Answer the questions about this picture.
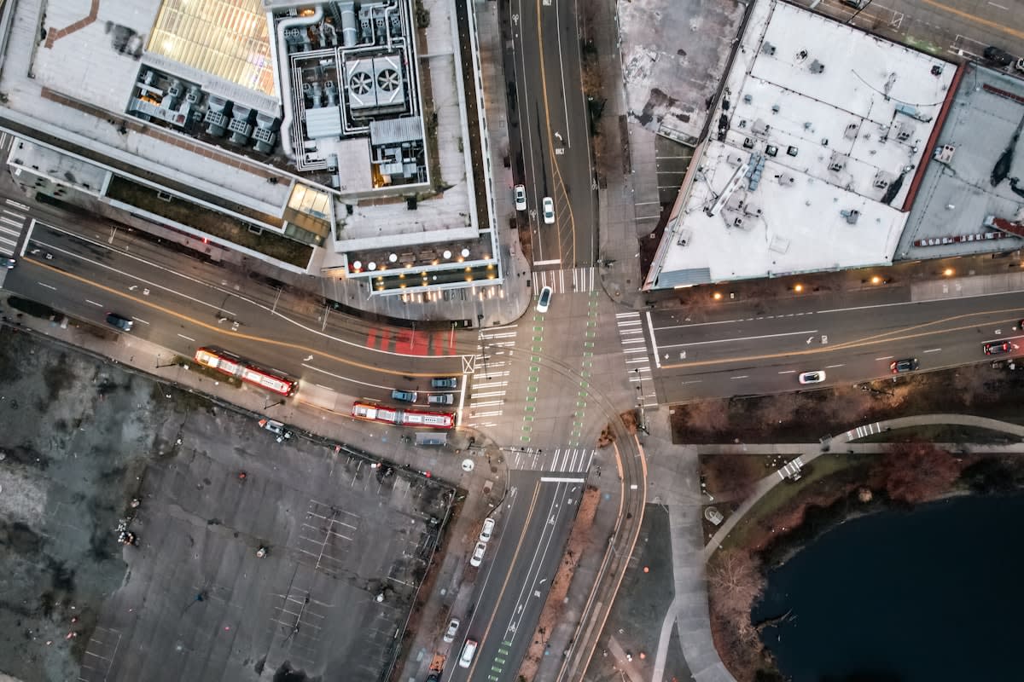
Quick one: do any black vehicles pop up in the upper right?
Yes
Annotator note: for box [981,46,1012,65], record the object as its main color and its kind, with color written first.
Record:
black car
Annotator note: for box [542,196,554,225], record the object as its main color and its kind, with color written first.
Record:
white vehicle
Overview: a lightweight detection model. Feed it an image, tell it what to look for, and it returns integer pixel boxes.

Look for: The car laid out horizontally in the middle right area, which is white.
[798,370,826,383]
